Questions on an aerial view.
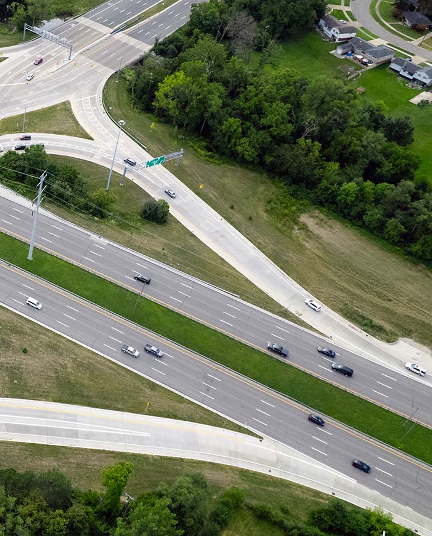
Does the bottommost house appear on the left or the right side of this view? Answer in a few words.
right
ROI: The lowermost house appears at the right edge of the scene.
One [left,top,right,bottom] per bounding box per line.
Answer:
[391,55,432,89]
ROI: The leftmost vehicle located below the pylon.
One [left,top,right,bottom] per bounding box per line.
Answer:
[25,297,43,309]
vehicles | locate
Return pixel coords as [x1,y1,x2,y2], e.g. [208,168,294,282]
[305,300,321,311]
[34,58,43,64]
[266,343,288,357]
[120,343,141,358]
[331,362,354,378]
[25,297,43,309]
[133,272,152,285]
[350,458,371,473]
[14,145,27,151]
[143,343,164,358]
[164,189,176,198]
[25,74,34,80]
[19,135,31,141]
[317,347,336,359]
[405,363,425,374]
[124,158,136,165]
[306,412,326,426]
